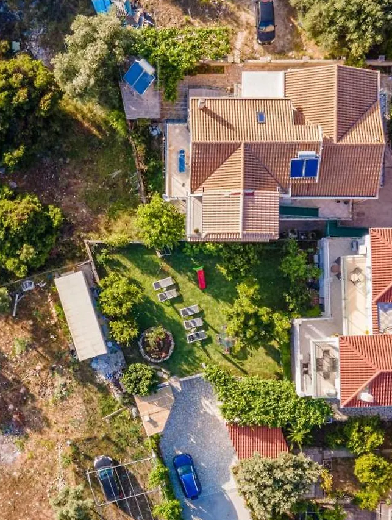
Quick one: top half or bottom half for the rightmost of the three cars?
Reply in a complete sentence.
Seen from above, the rightmost of the three cars lies in the top half of the view.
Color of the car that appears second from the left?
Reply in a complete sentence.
In this view, the car that appears second from the left is blue.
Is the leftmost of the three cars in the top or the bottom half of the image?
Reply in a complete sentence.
The leftmost of the three cars sits in the bottom half of the picture.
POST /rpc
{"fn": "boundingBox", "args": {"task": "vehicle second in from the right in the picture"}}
[171,451,201,502]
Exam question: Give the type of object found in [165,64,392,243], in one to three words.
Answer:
house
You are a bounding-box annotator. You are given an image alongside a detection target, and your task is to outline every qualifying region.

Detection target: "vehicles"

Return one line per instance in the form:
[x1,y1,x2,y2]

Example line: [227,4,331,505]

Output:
[95,454,123,506]
[255,0,279,49]
[171,451,201,502]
